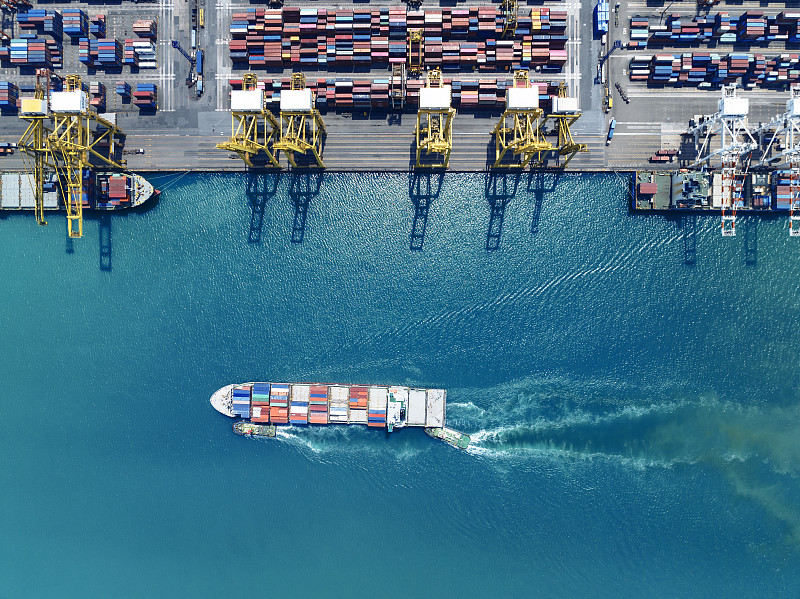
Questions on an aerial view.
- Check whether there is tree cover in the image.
No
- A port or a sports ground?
port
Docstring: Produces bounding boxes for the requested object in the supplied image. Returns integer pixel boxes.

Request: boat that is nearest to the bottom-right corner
[424,426,472,449]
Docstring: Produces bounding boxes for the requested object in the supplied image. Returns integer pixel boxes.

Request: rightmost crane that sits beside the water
[742,71,800,240]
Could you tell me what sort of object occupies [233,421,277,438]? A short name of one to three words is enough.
boat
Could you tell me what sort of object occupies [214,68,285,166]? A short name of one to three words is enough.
container crane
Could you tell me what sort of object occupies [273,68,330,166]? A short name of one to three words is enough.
container crane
